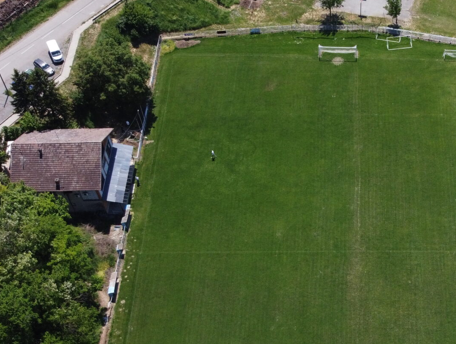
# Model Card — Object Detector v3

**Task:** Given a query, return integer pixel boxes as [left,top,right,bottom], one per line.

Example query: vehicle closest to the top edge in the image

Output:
[46,36,64,61]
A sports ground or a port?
sports ground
